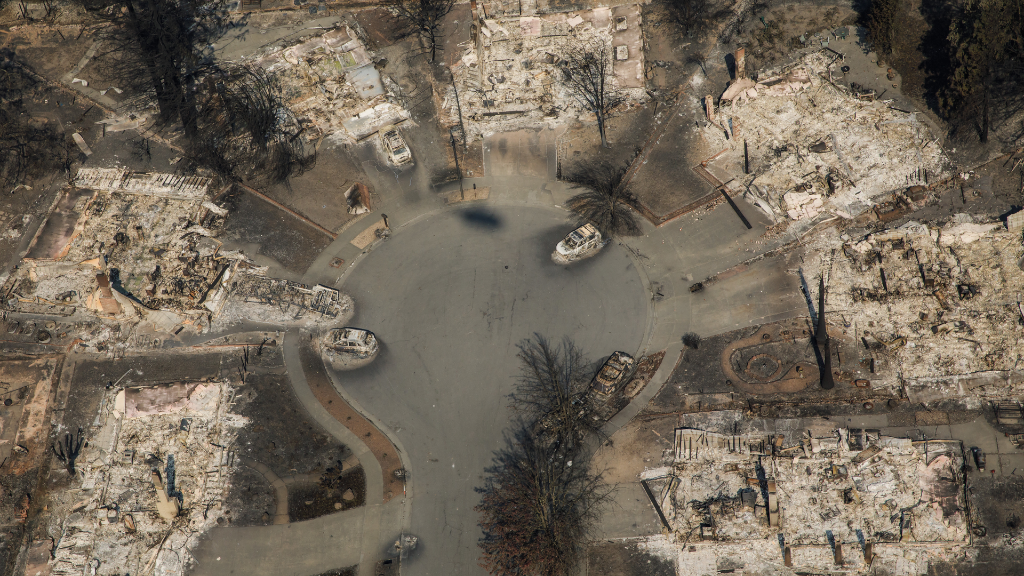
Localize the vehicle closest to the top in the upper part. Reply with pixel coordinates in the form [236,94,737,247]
[377,124,416,173]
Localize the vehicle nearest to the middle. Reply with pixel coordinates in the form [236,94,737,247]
[548,220,611,266]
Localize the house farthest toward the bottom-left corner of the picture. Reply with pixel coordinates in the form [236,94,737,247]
[37,372,263,576]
